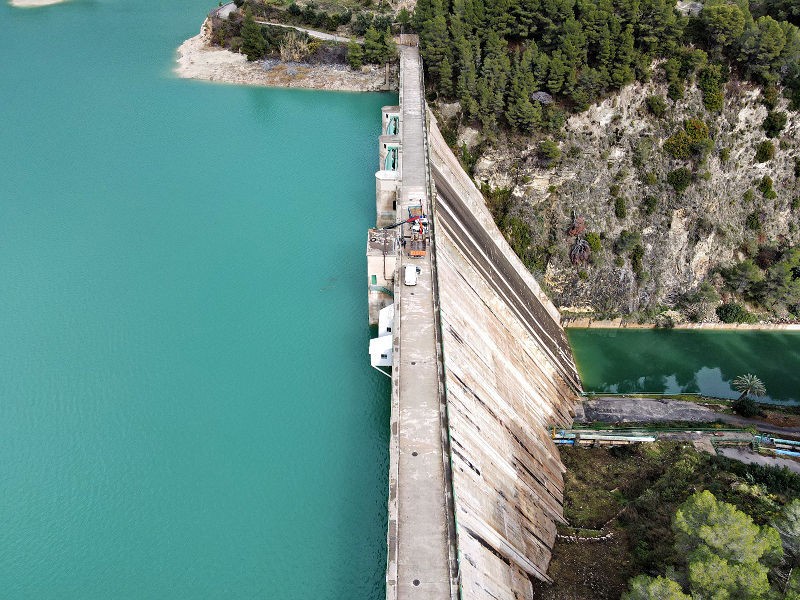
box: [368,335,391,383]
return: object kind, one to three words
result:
shed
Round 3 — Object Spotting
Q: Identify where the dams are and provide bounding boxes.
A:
[371,40,580,600]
